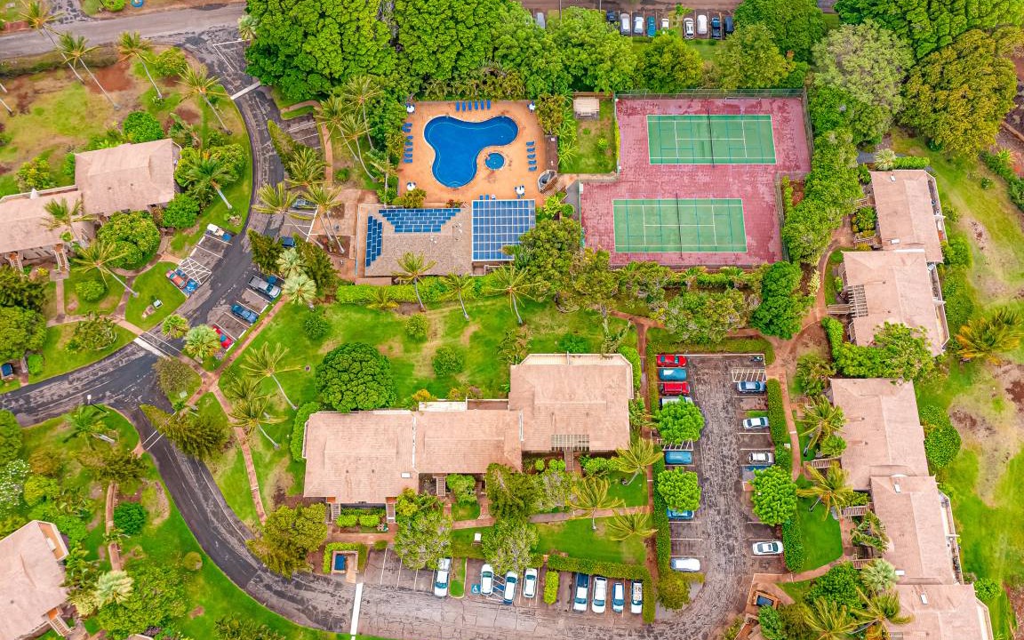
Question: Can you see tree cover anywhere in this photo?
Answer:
Yes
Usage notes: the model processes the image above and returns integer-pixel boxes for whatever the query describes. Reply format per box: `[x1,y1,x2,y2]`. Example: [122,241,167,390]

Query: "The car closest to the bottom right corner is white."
[752,540,783,555]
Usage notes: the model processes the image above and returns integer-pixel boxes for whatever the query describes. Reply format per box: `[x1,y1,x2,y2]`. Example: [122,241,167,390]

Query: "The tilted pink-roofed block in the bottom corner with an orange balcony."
[0,520,82,640]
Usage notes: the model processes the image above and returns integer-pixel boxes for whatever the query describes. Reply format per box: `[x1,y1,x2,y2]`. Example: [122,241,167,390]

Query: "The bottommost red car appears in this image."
[661,383,689,395]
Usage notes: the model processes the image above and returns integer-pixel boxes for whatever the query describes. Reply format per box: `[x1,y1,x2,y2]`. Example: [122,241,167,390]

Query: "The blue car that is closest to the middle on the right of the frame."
[659,367,687,381]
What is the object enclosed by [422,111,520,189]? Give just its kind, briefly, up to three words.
swimming pool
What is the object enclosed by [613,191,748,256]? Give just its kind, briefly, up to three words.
tennis court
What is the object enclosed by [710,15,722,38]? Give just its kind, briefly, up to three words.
vehicle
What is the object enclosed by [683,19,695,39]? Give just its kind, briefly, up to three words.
vehicle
